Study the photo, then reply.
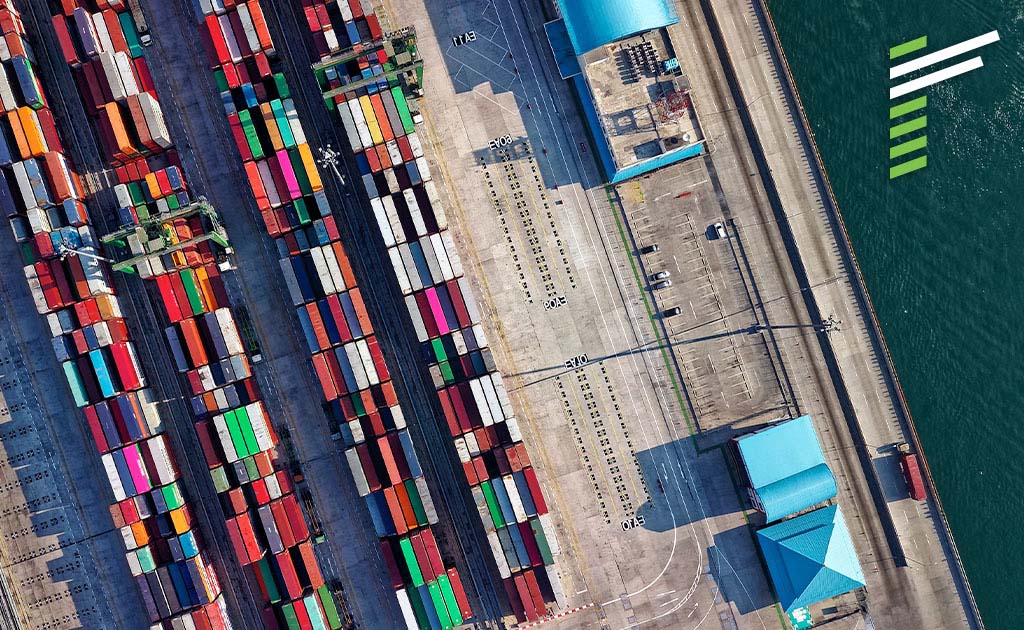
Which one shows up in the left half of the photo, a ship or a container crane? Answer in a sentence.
What appears in the left half of the photo is a container crane.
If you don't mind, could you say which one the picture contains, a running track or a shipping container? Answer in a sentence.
The image shows a shipping container.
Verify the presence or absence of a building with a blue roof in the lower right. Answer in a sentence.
Yes, a building with a blue roof shows up in the lower right.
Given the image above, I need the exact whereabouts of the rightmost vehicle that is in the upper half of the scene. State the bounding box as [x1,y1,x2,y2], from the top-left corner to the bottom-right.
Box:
[715,222,728,240]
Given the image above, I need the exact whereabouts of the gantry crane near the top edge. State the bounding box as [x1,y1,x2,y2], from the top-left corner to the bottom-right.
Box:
[311,27,432,132]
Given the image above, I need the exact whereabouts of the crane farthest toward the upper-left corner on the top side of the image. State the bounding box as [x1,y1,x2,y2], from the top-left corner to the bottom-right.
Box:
[98,199,241,283]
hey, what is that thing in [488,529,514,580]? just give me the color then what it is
white shipping container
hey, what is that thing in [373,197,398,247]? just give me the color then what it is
white shipping container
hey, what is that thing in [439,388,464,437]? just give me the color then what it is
red shipping container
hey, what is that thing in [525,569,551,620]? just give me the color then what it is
red shipping container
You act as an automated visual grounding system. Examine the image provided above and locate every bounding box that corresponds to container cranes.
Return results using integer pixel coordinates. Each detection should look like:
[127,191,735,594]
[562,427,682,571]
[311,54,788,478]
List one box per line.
[311,27,432,132]
[98,199,241,283]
